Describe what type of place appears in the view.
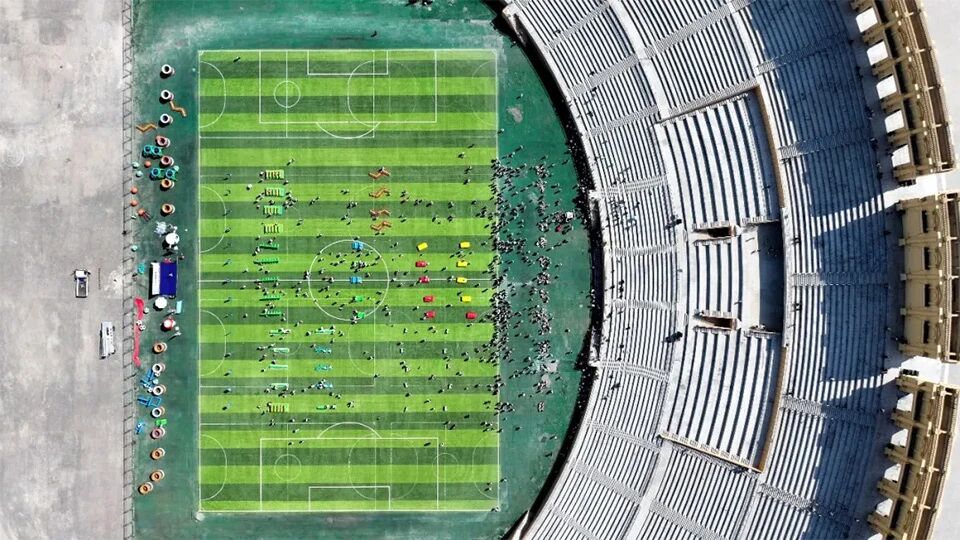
sports ground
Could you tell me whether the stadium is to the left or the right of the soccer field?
on the right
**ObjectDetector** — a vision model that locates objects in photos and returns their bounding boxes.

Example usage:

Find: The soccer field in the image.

[197,48,501,514]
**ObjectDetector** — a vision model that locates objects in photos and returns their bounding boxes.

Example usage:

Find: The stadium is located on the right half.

[488,0,960,540]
